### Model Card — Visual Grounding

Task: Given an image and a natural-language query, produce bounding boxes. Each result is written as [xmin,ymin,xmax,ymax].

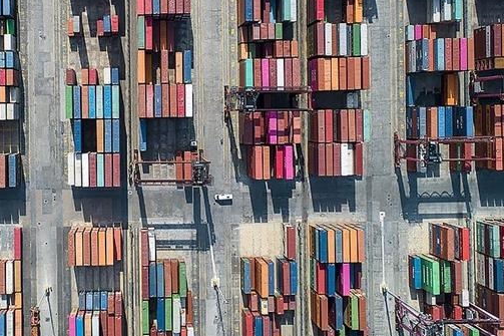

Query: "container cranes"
[133,153,213,187]
[395,134,500,164]
[474,75,504,103]
[224,84,312,117]
[397,300,503,336]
